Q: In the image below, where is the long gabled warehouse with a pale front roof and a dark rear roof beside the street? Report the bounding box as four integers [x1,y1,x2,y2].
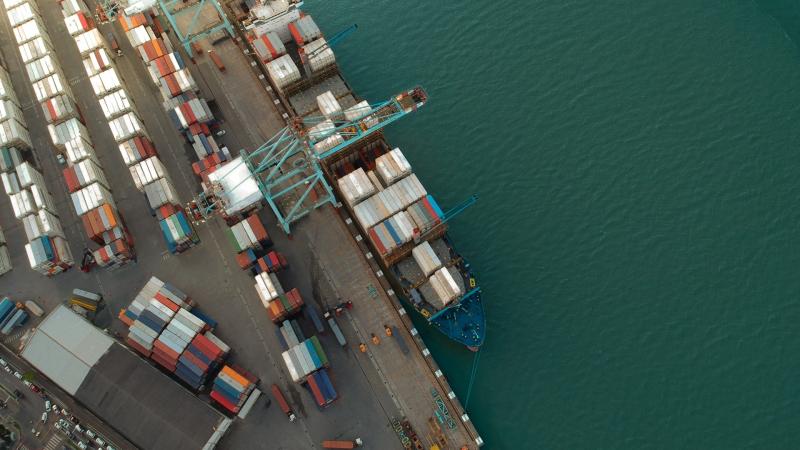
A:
[18,303,240,450]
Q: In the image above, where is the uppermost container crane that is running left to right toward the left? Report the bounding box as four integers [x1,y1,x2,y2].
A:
[87,0,238,59]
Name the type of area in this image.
port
